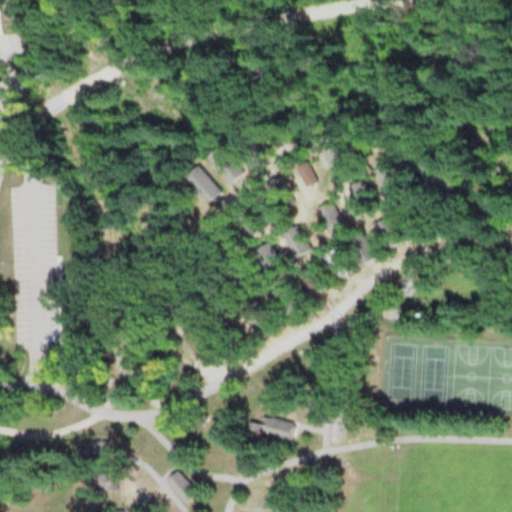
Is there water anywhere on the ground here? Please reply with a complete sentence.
No, the scene doesn't show any water.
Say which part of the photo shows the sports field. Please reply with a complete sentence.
Look in the bottom right portion of the view to spot the sports field.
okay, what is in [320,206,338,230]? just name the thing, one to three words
building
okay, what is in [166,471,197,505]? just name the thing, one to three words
building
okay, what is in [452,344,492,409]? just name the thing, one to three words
basketball court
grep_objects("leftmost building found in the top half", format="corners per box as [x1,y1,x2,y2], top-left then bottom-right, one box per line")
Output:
[187,166,222,202]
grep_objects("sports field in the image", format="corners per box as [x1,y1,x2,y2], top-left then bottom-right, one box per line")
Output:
[398,446,512,512]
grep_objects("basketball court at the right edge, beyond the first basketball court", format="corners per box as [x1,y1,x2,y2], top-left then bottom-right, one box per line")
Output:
[488,346,512,411]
